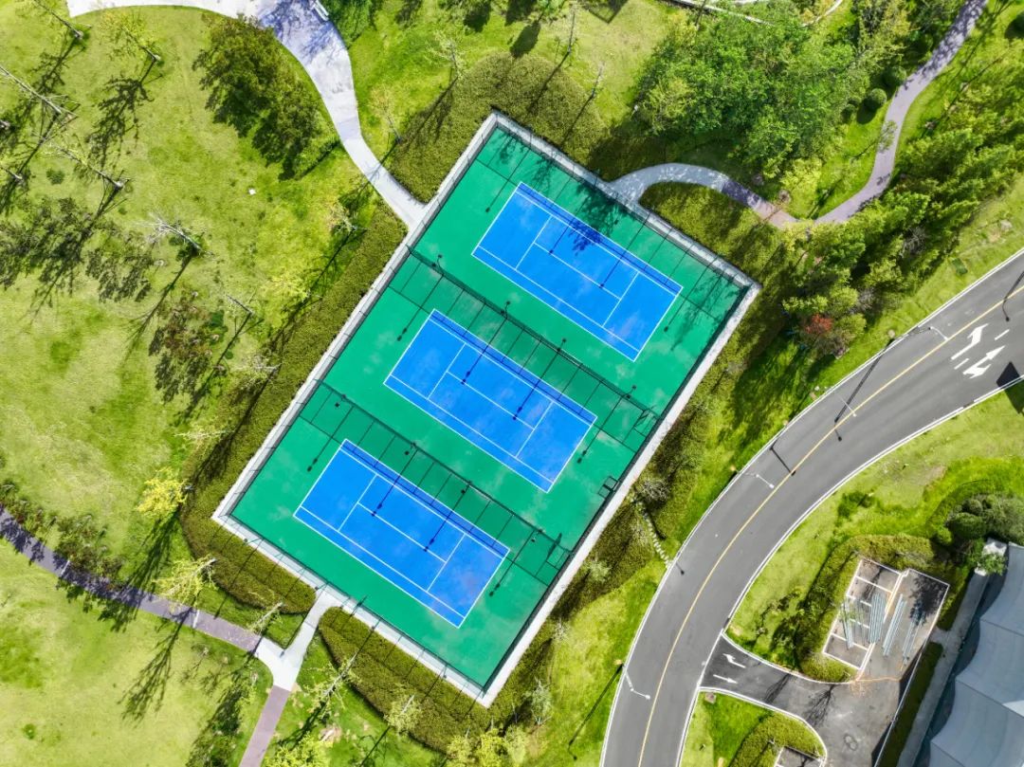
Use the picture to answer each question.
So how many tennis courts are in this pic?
3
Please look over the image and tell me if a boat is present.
No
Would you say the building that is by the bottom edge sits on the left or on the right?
right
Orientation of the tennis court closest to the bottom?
at an angle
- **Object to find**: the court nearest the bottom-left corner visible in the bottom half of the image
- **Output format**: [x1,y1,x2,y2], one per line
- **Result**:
[294,439,509,627]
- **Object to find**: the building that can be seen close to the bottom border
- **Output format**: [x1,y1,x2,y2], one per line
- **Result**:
[906,543,1024,767]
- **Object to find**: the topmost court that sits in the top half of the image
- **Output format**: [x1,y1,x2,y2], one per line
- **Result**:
[472,182,682,361]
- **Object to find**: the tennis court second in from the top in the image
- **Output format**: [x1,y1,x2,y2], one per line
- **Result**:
[384,309,597,493]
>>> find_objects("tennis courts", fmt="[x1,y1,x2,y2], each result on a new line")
[472,182,682,361]
[384,309,597,493]
[294,439,509,627]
